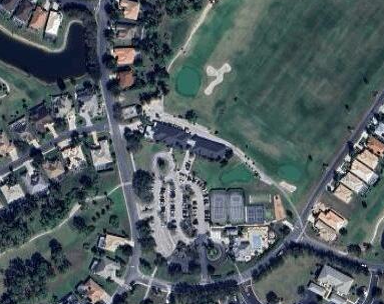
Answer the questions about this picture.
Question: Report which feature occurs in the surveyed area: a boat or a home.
home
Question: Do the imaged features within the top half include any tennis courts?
No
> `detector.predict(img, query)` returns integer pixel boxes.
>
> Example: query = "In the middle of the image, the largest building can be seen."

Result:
[152,122,235,164]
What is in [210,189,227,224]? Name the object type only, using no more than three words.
tennis court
